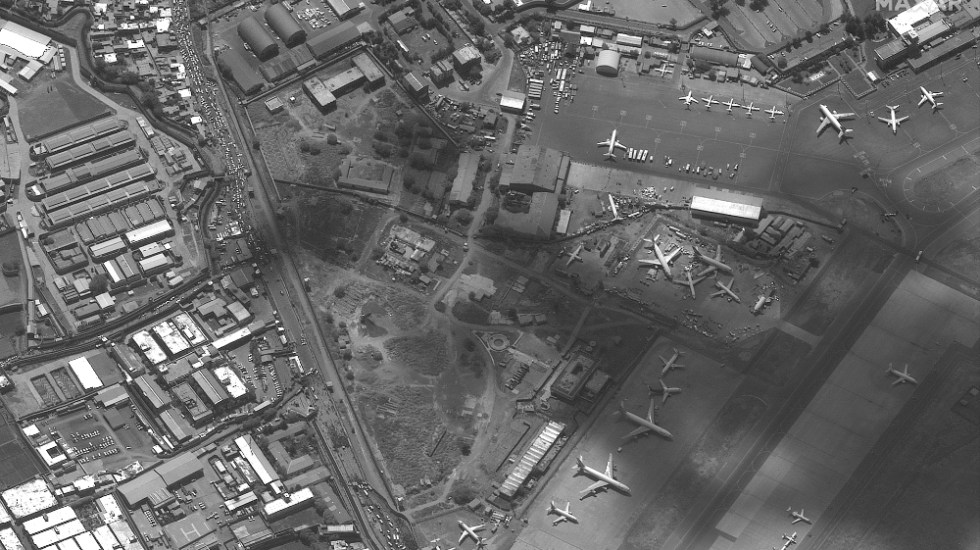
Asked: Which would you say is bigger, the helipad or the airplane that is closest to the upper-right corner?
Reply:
the helipad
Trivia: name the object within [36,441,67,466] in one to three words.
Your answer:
house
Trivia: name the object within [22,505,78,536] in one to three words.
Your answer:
building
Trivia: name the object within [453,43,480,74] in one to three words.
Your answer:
building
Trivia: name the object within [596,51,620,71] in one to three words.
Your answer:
hangar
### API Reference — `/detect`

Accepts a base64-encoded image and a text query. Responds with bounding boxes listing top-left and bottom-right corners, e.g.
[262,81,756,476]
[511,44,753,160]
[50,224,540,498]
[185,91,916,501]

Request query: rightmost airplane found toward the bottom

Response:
[887,364,918,385]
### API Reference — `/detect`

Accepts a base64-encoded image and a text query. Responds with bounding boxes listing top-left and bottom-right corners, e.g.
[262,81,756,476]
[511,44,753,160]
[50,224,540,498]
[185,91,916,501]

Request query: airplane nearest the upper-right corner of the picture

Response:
[919,87,943,111]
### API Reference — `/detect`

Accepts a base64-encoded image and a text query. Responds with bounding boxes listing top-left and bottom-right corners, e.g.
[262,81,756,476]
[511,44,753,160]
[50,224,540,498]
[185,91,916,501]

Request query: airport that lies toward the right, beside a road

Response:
[411,38,980,550]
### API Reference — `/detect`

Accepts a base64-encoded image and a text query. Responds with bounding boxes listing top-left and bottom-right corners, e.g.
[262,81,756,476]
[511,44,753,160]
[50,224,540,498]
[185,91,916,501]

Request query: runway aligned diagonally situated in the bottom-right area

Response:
[699,271,980,550]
